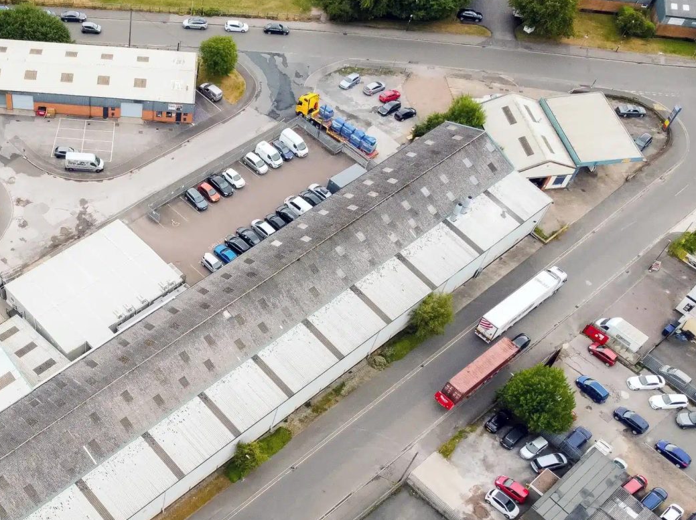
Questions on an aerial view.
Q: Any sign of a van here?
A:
Yes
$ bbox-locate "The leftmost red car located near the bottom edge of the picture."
[495,478,530,506]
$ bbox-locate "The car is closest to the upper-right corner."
[615,105,645,119]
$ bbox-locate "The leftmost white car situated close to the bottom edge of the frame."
[484,492,521,520]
